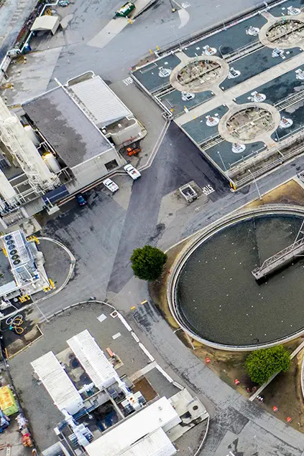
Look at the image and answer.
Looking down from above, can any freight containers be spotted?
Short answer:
Yes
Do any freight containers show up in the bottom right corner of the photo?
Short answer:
No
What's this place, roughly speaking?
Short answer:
industrial area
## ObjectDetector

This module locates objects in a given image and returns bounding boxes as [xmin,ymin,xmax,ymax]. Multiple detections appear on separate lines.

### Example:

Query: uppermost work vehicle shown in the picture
[125,142,144,156]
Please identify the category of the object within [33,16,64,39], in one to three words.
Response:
shed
